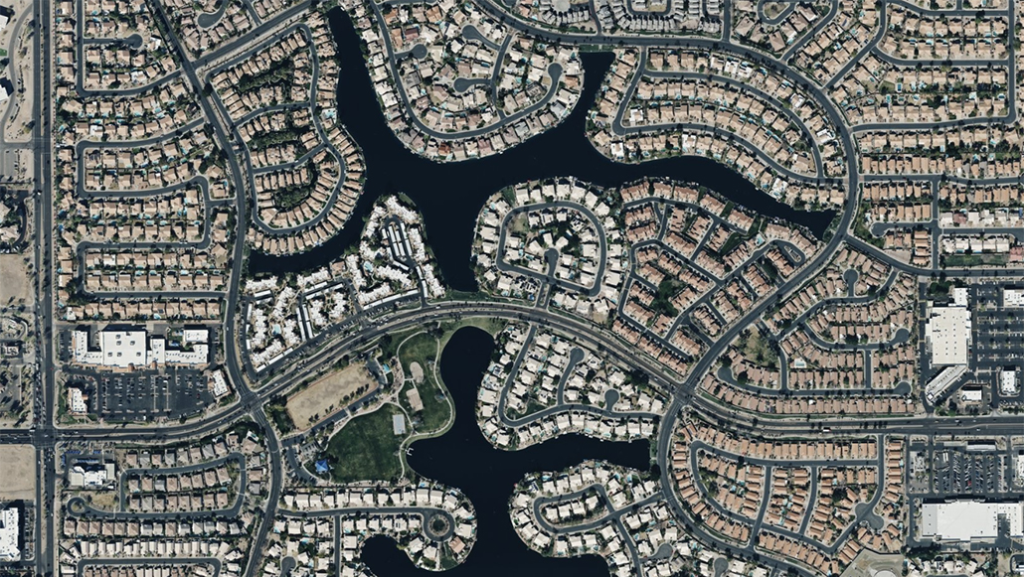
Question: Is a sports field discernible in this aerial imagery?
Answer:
Yes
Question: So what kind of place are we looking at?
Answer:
residential area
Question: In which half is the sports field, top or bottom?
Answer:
bottom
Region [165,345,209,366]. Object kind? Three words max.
building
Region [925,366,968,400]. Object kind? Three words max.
building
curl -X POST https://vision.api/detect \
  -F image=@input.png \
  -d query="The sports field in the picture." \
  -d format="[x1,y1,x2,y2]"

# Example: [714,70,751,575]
[288,365,377,428]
